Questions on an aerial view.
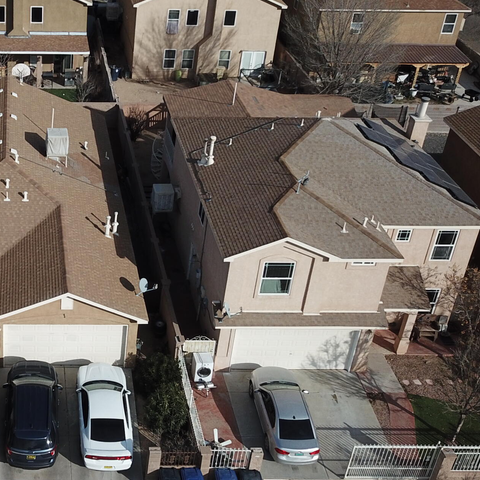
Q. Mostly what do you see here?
buildings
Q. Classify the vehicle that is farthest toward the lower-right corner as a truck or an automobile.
automobile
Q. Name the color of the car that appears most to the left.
black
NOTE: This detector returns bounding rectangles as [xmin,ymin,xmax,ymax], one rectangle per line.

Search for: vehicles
[249,368,324,471]
[0,365,63,473]
[73,366,136,477]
